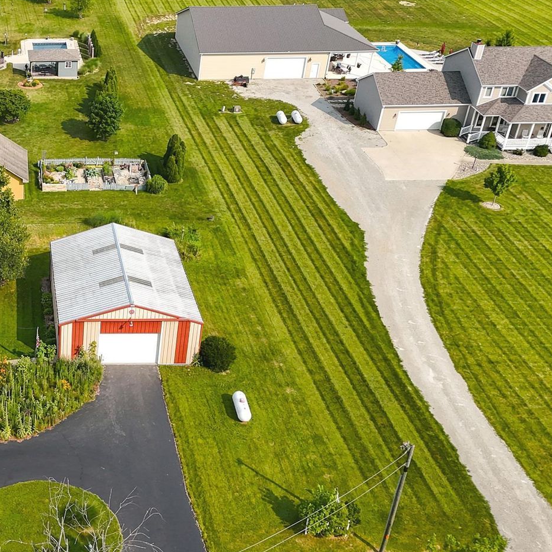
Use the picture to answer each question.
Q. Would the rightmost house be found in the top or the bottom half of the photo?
top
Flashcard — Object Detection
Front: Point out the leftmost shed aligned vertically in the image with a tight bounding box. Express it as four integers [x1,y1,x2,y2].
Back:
[0,134,28,204]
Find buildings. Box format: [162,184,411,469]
[27,49,81,78]
[172,2,383,81]
[47,224,207,366]
[347,36,552,148]
[0,134,28,204]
